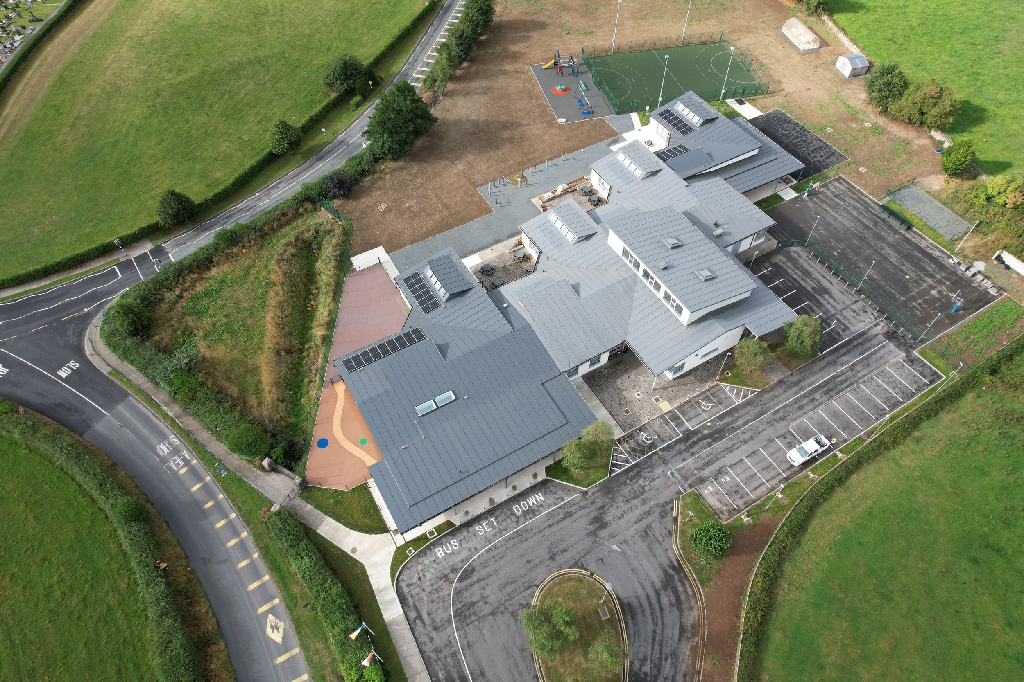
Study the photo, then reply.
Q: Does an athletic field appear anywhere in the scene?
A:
Yes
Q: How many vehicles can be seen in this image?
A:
1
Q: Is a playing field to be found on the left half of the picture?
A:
No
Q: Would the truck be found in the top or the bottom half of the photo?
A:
bottom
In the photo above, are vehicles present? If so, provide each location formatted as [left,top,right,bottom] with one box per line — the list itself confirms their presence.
[787,433,833,466]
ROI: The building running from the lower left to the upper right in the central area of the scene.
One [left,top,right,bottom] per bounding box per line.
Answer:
[331,91,806,535]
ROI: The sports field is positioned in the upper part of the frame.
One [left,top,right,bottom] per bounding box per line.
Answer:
[583,42,766,114]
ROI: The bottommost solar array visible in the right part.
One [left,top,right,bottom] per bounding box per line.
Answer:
[655,144,690,160]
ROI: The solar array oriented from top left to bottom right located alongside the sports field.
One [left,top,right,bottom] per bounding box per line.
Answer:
[657,109,694,135]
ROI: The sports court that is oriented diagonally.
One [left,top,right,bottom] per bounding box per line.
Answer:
[762,175,1006,350]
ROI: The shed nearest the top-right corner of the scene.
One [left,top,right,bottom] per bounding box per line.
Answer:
[833,53,871,78]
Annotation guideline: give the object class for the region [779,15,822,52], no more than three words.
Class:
greenhouse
